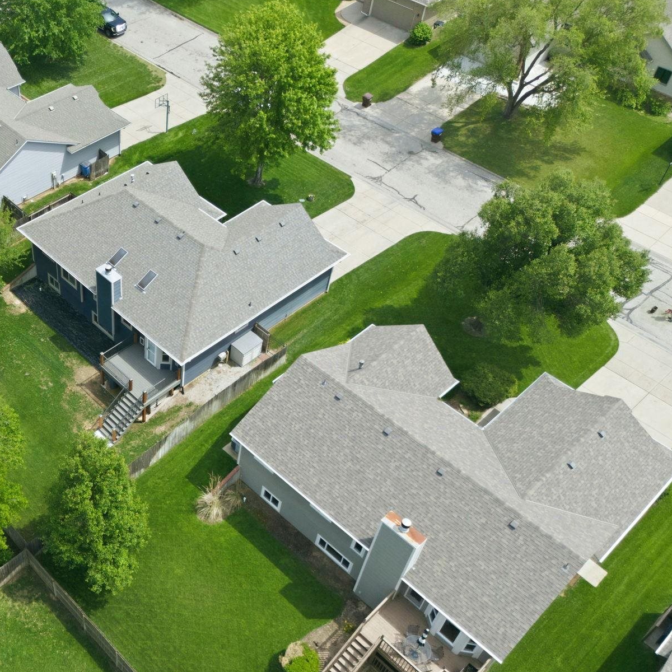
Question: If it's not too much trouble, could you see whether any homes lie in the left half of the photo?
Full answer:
Yes, a home is visible in the left half of the photo.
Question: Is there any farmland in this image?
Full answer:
No, the scene doesn't show any farmland.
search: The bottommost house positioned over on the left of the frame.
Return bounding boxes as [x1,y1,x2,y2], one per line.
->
[15,161,352,395]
